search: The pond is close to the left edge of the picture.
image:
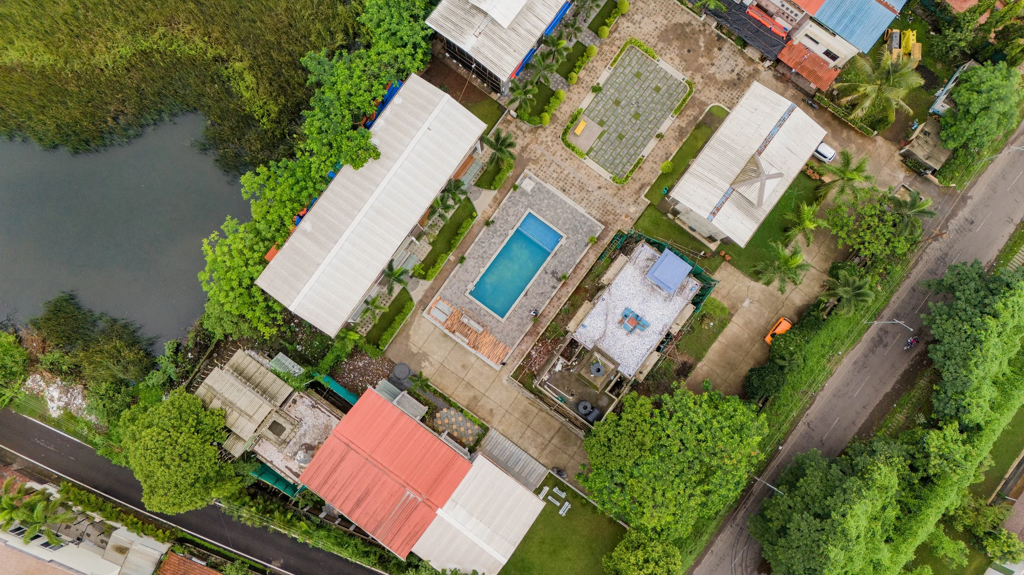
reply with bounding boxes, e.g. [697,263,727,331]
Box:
[0,11,361,366]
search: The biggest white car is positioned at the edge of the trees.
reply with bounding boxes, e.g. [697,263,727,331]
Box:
[813,140,837,163]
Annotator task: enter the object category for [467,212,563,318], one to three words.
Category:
swimming pool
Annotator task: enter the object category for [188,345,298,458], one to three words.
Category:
shed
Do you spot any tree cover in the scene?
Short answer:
Yes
